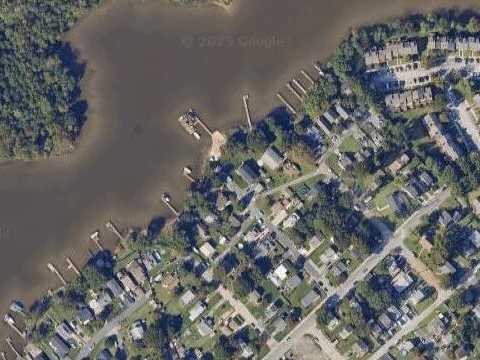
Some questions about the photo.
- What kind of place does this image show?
residential area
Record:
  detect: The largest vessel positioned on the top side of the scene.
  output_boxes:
[178,116,195,137]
